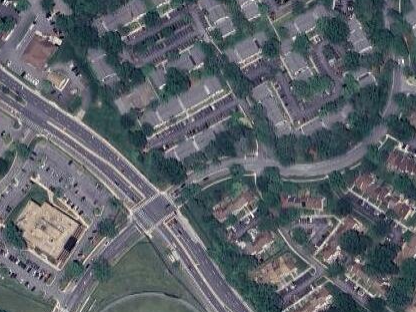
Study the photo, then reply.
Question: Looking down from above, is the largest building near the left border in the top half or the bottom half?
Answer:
bottom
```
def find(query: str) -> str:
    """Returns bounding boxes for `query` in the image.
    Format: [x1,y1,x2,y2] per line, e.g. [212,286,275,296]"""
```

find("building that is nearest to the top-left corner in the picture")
[21,34,62,69]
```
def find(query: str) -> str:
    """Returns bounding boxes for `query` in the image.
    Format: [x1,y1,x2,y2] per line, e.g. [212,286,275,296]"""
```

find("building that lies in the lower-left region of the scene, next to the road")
[16,201,89,264]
